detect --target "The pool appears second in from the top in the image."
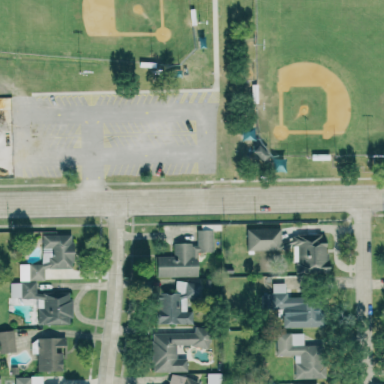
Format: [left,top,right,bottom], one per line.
[9,298,38,325]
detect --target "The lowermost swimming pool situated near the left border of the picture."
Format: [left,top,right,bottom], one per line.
[8,350,34,376]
